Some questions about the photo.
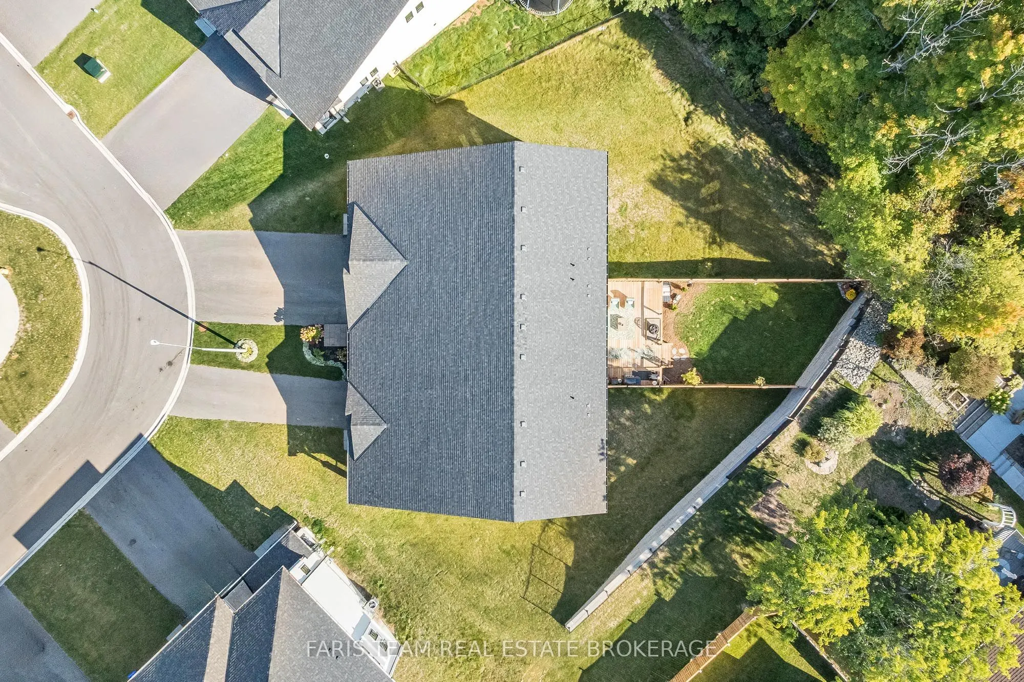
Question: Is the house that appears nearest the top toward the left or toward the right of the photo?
left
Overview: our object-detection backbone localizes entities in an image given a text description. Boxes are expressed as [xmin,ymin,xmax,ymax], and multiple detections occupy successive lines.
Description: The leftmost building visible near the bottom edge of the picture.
[121,514,404,682]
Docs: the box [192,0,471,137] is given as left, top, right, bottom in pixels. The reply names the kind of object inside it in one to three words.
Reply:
house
